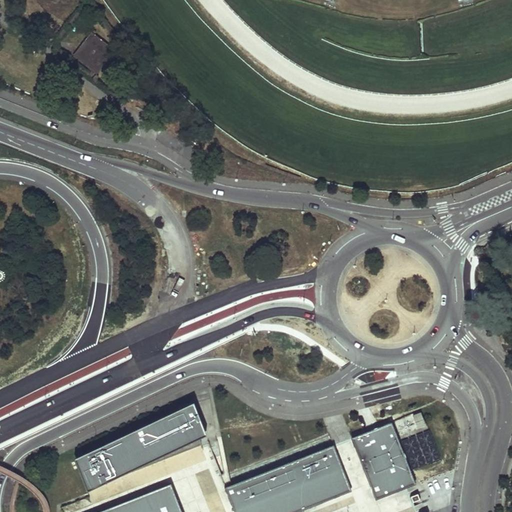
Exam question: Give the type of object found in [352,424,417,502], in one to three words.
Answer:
building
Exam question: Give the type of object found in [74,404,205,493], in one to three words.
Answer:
building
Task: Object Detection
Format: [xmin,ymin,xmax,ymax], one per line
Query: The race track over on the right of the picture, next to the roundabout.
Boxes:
[104,0,512,191]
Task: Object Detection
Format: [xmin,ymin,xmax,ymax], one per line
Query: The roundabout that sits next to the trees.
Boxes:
[316,223,464,371]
